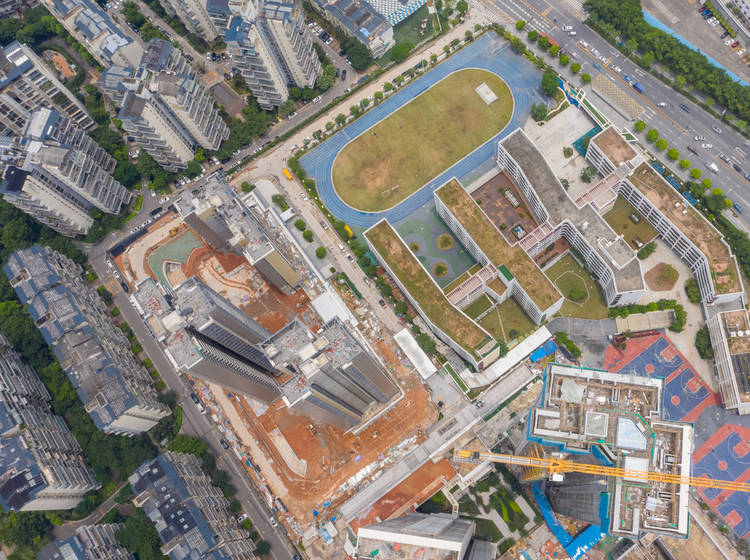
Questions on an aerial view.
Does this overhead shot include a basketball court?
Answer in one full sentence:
Yes, a basketball court appears in the view.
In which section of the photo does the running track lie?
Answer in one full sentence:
The running track is in the top part of the image.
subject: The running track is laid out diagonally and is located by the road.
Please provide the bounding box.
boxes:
[299,30,556,228]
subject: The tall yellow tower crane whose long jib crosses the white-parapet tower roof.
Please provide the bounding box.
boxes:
[452,446,750,492]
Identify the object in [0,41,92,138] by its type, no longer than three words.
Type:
building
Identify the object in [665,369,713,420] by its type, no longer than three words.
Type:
basketball court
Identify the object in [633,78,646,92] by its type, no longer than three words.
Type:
vehicle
